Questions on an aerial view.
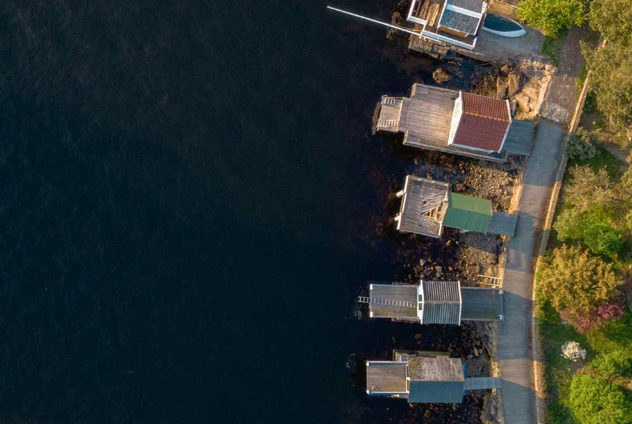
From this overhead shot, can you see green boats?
No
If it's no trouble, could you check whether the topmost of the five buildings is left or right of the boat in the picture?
to its left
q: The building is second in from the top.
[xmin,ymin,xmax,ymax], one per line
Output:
[374,83,520,163]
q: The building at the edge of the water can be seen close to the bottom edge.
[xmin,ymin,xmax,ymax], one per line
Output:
[361,351,465,404]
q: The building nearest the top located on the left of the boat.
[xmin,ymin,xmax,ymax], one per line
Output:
[403,0,487,51]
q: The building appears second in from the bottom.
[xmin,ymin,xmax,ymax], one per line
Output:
[361,279,504,326]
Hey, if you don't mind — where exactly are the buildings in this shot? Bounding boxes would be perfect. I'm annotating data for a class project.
[403,0,487,51]
[361,351,465,404]
[374,83,520,163]
[391,175,494,237]
[361,279,504,326]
